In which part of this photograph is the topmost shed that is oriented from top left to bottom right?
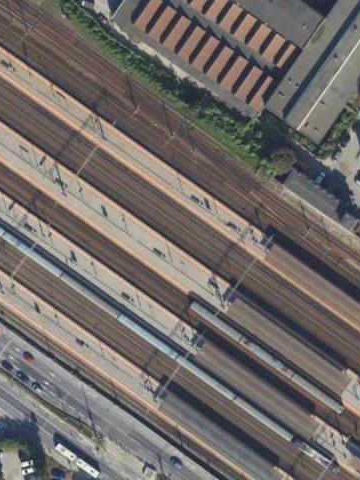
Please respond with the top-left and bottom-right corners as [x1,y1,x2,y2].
[283,171,339,221]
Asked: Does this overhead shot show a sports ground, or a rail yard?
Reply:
rail yard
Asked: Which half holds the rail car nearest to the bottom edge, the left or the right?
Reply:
right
